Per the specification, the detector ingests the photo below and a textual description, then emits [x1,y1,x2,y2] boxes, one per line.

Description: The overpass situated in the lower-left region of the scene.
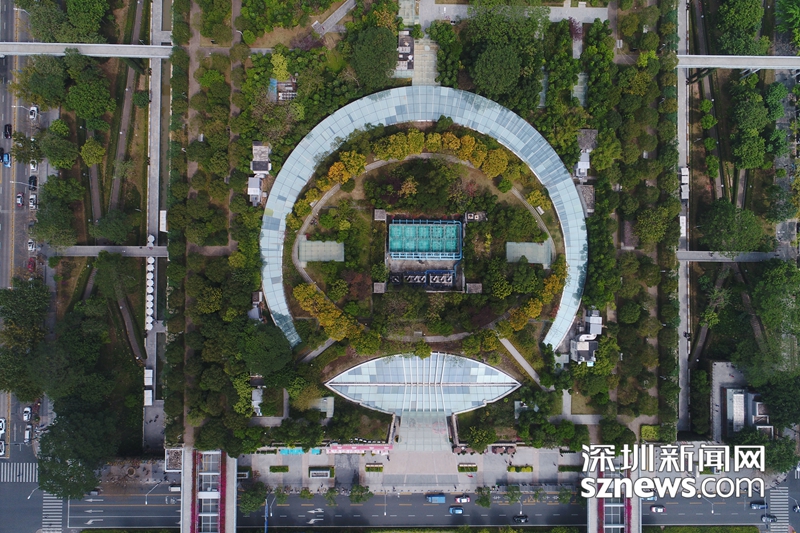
[177,447,238,533]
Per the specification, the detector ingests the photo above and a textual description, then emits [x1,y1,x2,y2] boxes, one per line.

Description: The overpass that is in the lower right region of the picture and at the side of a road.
[587,444,646,533]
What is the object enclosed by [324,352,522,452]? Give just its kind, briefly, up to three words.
building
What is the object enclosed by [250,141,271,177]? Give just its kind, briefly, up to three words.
building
